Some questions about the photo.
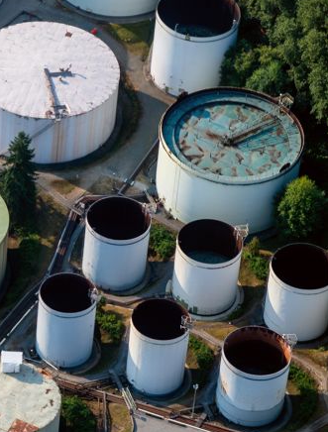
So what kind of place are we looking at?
industrial area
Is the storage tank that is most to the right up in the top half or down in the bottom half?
bottom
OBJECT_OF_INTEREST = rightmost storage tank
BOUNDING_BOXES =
[259,241,328,343]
